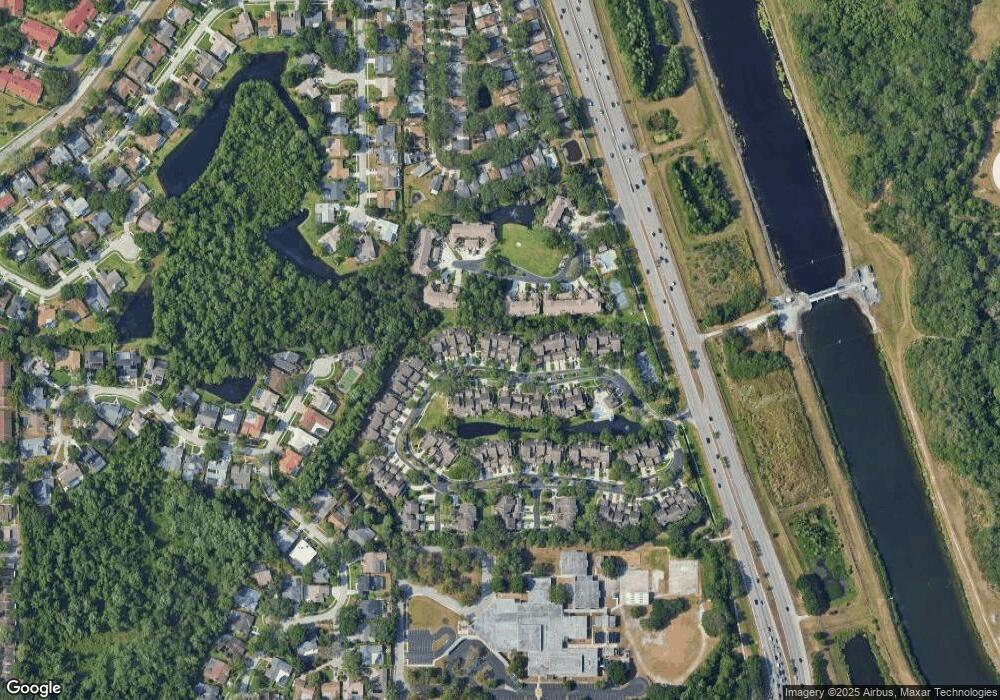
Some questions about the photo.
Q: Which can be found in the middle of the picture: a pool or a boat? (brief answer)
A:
pool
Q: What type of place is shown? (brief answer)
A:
residential area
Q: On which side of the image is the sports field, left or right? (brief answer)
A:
right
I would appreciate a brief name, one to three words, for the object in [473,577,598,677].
building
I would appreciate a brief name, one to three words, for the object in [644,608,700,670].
sports field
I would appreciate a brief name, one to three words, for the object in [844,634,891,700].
pond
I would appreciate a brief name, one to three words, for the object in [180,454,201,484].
house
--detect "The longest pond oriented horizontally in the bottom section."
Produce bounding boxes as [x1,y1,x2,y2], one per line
[456,417,642,439]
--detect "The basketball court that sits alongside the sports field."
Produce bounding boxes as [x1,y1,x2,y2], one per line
[669,559,698,595]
